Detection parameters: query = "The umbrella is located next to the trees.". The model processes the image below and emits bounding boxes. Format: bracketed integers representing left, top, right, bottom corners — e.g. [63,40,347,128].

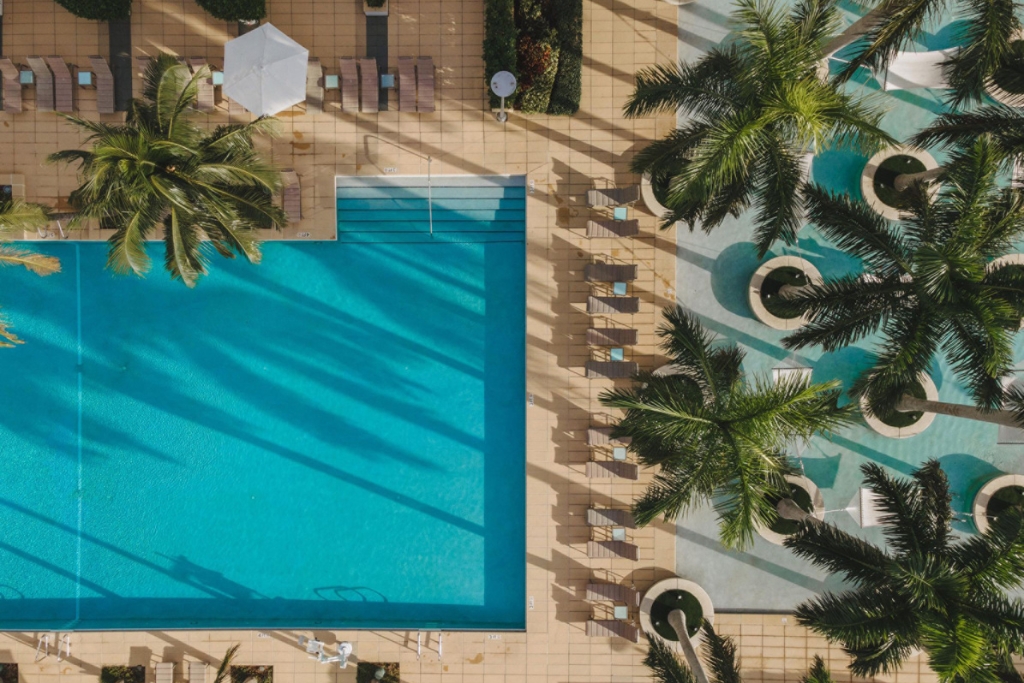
[223,22,310,119]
